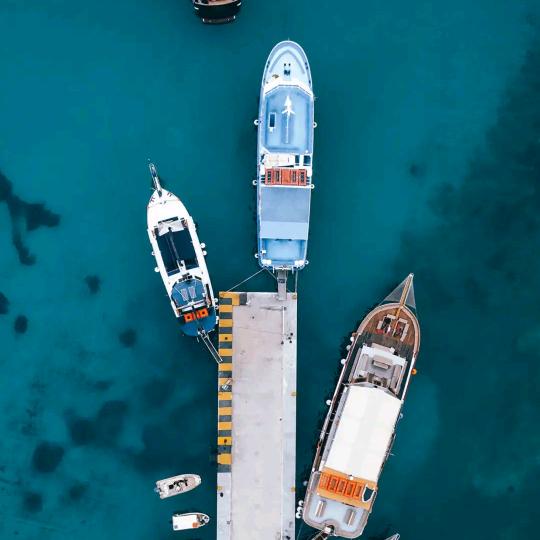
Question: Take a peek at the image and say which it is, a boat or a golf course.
boat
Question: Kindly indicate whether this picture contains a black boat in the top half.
Yes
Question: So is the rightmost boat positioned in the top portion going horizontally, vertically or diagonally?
vertically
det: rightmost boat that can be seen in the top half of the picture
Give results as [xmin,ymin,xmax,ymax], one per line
[252,36,317,300]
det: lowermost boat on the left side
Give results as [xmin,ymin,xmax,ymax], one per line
[169,509,210,530]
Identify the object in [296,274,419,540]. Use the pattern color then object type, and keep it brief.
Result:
white boat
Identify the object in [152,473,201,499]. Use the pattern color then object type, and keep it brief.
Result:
white boat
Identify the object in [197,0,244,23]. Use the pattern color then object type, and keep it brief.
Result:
black boat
